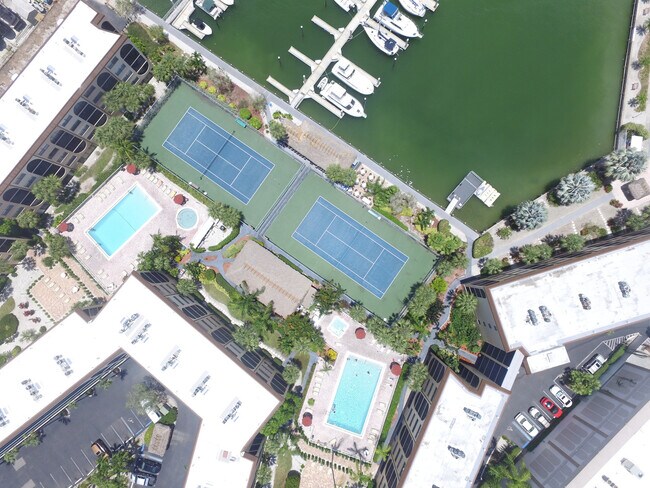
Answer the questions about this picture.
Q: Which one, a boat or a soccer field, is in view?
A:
boat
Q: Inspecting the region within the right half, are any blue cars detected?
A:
No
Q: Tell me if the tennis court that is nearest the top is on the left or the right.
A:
left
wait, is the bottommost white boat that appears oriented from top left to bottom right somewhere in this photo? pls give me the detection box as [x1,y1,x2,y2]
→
[317,84,368,118]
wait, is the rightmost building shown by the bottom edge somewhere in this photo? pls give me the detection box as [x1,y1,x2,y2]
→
[501,334,650,488]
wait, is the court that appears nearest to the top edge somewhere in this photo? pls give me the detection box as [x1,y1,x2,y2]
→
[136,83,303,229]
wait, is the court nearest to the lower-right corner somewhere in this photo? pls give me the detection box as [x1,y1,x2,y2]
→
[265,170,436,324]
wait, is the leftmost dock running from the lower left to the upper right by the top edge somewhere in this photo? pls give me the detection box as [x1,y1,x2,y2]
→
[172,0,198,30]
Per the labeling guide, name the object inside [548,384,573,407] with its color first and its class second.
white car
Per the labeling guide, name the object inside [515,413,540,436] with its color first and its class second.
white car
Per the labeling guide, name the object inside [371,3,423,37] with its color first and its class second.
white boat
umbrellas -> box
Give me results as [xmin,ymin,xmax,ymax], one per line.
[354,327,366,339]
[126,163,138,175]
[301,412,313,425]
[389,362,402,374]
[59,221,72,233]
[175,194,186,205]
